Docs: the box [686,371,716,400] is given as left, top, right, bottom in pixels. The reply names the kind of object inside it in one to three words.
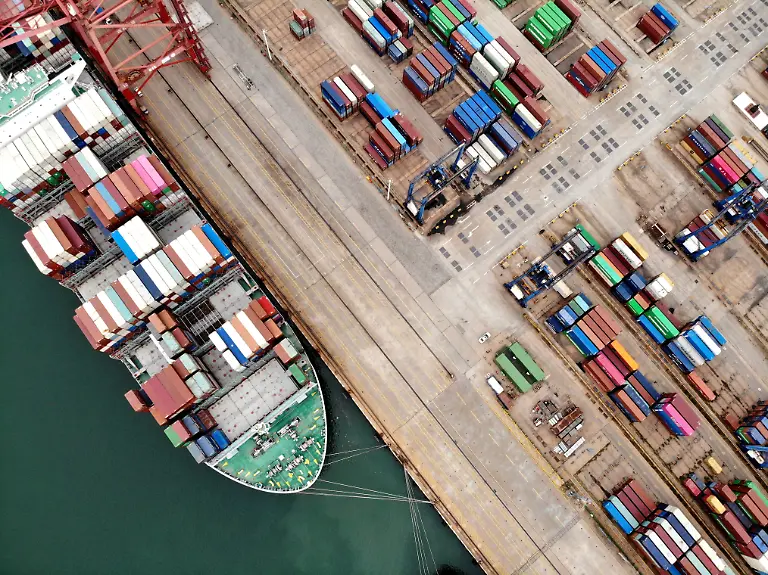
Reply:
shipping container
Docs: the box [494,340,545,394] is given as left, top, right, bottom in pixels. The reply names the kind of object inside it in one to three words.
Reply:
shed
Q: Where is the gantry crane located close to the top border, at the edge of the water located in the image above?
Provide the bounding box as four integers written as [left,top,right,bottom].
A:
[0,0,212,125]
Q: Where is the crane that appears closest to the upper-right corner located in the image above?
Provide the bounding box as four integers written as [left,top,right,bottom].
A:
[674,183,768,264]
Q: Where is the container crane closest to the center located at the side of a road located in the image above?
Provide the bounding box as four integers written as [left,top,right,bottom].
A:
[403,141,479,221]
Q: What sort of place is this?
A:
port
